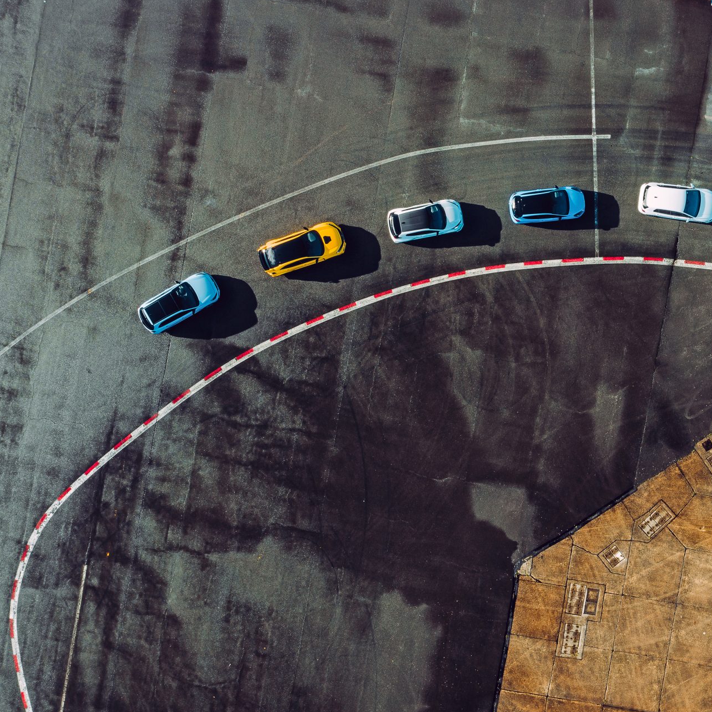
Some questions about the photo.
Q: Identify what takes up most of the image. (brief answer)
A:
paved ground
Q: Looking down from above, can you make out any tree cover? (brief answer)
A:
No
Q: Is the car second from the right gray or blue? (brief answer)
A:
blue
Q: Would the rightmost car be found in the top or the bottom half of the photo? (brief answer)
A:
top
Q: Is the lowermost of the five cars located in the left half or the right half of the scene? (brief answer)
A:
left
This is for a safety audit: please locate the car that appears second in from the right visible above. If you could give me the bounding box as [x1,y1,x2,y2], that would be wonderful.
[508,182,585,226]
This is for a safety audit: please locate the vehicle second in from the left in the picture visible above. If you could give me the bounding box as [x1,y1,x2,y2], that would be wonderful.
[258,222,346,277]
